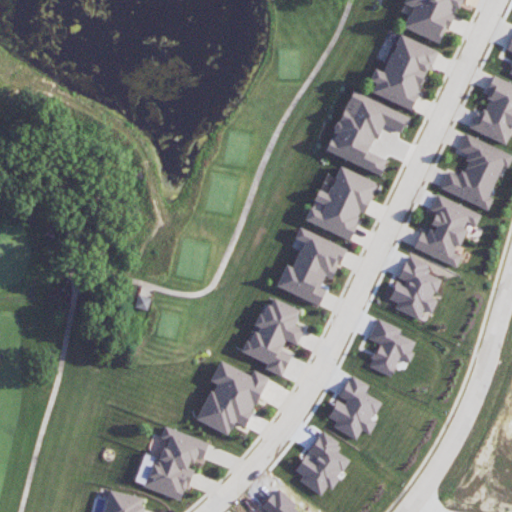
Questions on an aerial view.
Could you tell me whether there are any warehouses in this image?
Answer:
No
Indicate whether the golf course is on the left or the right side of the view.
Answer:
left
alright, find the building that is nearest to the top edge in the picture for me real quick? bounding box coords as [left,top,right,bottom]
[403,0,468,48]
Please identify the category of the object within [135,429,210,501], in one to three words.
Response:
house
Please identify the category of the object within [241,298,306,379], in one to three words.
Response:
house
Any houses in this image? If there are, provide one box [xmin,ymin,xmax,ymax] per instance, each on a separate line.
[241,298,306,379]
[195,362,270,435]
[86,486,149,512]
[365,320,418,380]
[442,136,511,209]
[328,375,386,442]
[135,429,210,501]
[276,228,344,307]
[324,94,410,175]
[306,167,378,241]
[414,195,483,266]
[369,34,442,110]
[403,0,468,48]
[470,76,512,147]
[388,252,443,320]
[296,430,354,498]
[266,488,302,512]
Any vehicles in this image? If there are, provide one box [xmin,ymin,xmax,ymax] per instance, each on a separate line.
[246,469,261,482]
[356,230,364,236]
